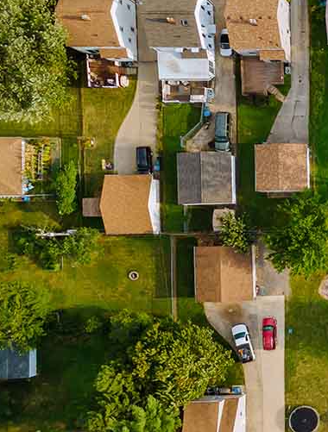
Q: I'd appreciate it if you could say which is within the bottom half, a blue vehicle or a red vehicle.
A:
red vehicle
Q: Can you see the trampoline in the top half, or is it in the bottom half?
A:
bottom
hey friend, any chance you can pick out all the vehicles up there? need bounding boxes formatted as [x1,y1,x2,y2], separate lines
[260,316,277,350]
[213,113,231,151]
[135,146,154,174]
[218,27,234,58]
[232,324,255,363]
